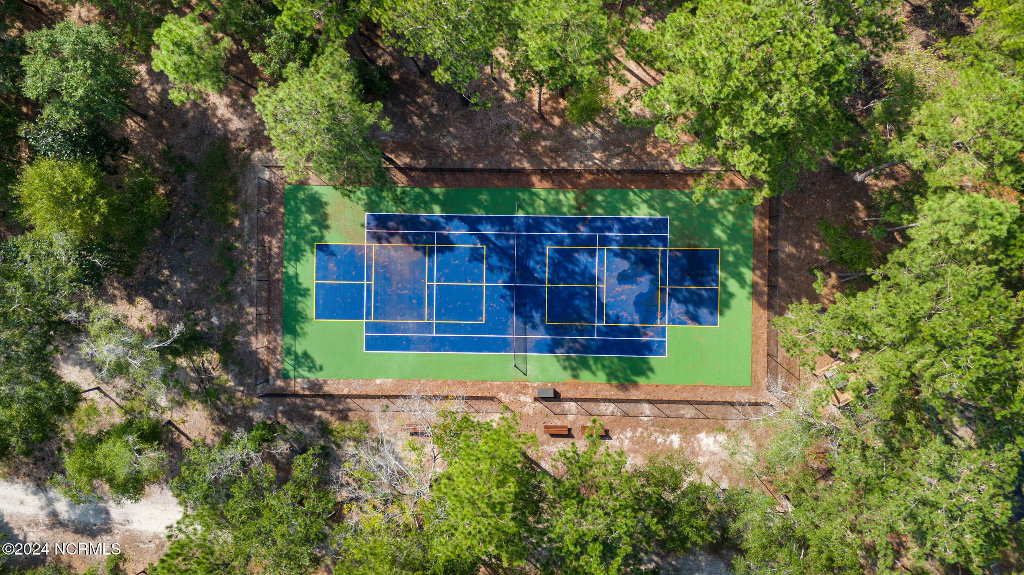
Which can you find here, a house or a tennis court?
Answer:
tennis court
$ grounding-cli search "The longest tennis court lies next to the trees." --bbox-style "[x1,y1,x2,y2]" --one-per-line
[284,185,756,387]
